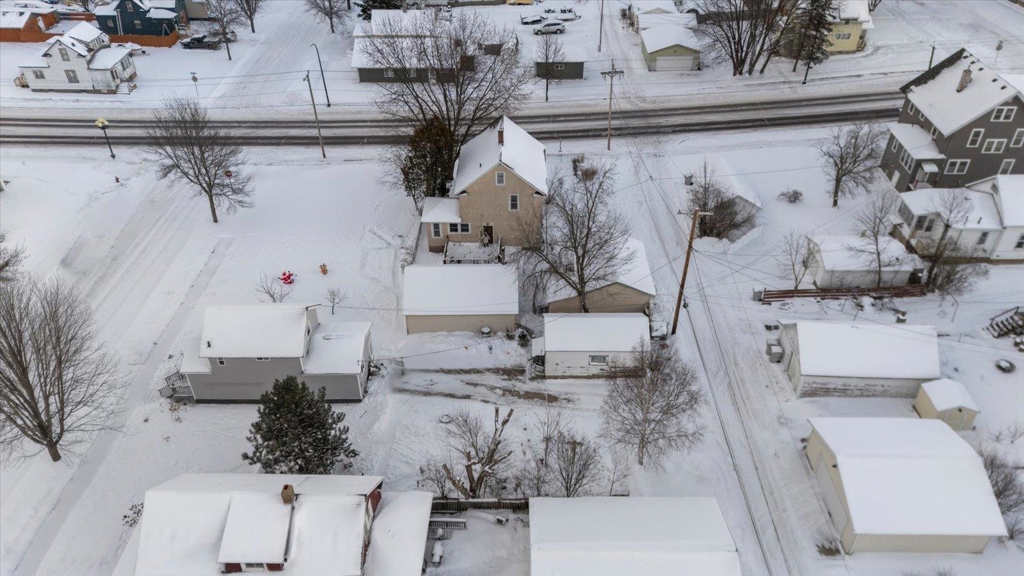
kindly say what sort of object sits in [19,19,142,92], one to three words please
house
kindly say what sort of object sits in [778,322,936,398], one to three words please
building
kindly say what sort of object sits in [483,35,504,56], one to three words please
shed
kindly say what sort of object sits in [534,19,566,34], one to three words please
car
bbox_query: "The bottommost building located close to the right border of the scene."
[807,425,1003,555]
